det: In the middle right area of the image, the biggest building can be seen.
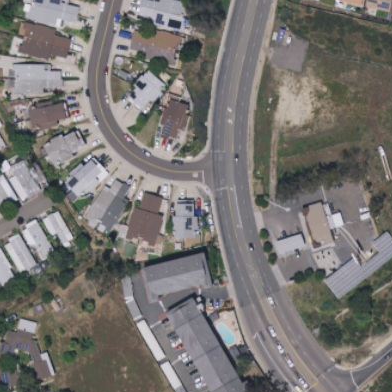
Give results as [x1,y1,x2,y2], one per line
[304,202,334,250]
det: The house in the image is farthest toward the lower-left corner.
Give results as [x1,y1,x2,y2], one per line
[0,319,54,388]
